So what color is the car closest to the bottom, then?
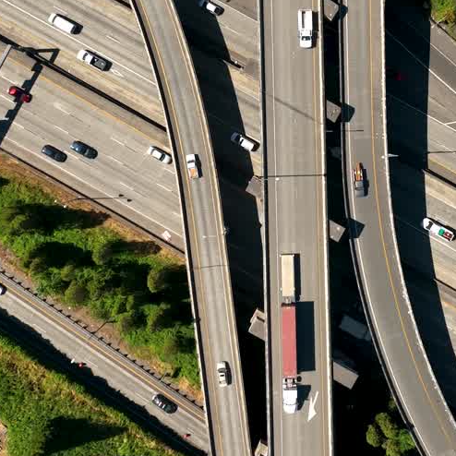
black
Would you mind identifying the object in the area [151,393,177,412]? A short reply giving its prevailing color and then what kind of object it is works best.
black car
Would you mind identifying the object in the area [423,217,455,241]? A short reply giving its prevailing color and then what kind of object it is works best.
white truck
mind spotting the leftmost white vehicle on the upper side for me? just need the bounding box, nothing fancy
[50,13,80,35]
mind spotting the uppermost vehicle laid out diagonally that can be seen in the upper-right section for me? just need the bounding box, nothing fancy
[384,65,406,85]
